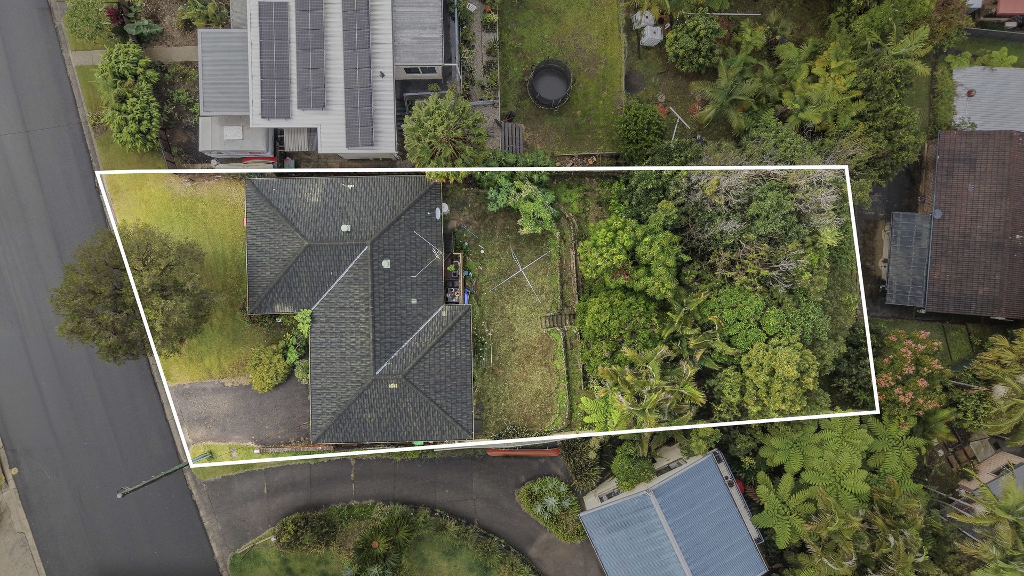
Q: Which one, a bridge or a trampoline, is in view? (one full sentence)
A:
The one in the frame is a trampoline.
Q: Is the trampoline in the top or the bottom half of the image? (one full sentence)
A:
Seen from above, the trampoline lies in the top half of the view.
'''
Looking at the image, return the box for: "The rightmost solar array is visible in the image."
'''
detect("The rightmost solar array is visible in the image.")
[342,0,373,150]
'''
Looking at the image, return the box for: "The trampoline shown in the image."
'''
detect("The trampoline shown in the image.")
[526,57,575,115]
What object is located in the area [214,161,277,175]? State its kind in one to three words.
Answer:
boat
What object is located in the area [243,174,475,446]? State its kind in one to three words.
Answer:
house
